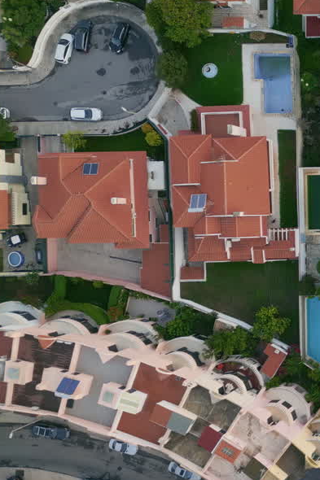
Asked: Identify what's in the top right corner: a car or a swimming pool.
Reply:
swimming pool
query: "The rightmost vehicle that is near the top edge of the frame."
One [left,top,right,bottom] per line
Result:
[110,22,132,54]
